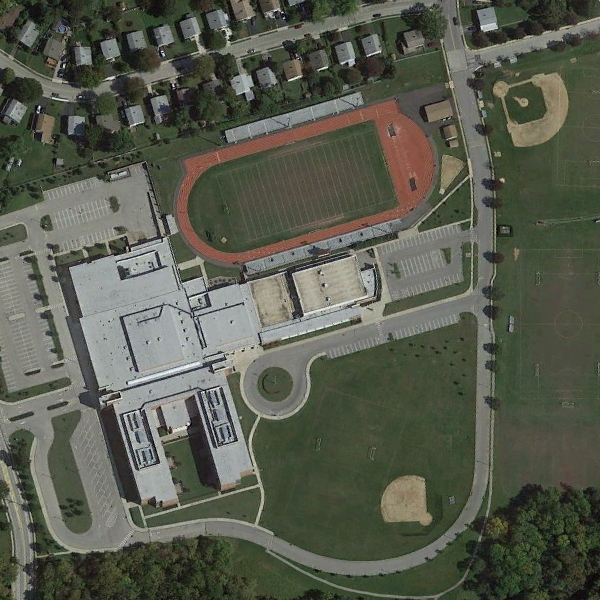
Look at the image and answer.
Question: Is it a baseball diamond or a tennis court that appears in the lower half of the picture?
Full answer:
There is a baseball diamond in the lower half of the picture.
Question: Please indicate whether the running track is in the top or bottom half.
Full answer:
You can find the running track in the top half.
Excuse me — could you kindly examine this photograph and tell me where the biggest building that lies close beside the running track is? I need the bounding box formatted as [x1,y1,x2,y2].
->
[69,162,380,507]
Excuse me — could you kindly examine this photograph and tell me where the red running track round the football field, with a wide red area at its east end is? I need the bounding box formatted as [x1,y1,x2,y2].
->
[176,100,434,264]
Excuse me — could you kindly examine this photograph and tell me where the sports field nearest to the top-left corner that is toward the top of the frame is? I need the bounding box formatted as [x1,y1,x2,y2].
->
[188,120,397,253]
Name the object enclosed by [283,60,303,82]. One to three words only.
house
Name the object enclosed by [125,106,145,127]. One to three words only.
house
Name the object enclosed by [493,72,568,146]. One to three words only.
baseball field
